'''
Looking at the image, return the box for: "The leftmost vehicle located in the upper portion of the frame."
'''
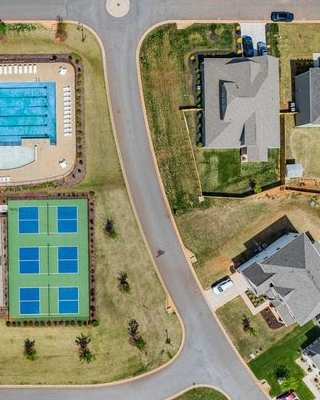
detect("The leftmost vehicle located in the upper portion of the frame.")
[242,35,254,55]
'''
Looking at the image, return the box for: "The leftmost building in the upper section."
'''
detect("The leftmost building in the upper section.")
[200,53,279,163]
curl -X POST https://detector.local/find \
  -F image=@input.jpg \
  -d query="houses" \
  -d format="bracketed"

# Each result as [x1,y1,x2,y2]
[297,55,320,126]
[304,342,320,384]
[200,53,279,163]
[236,234,320,333]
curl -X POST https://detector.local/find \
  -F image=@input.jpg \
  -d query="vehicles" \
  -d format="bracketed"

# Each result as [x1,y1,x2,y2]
[211,278,234,295]
[242,35,254,55]
[255,43,267,55]
[275,391,297,400]
[269,11,293,22]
